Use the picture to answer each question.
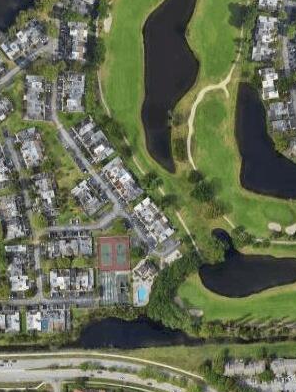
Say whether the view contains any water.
Yes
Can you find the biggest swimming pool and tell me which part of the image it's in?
bottom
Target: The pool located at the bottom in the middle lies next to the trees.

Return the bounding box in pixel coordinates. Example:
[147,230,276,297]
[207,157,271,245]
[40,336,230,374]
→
[133,277,153,308]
